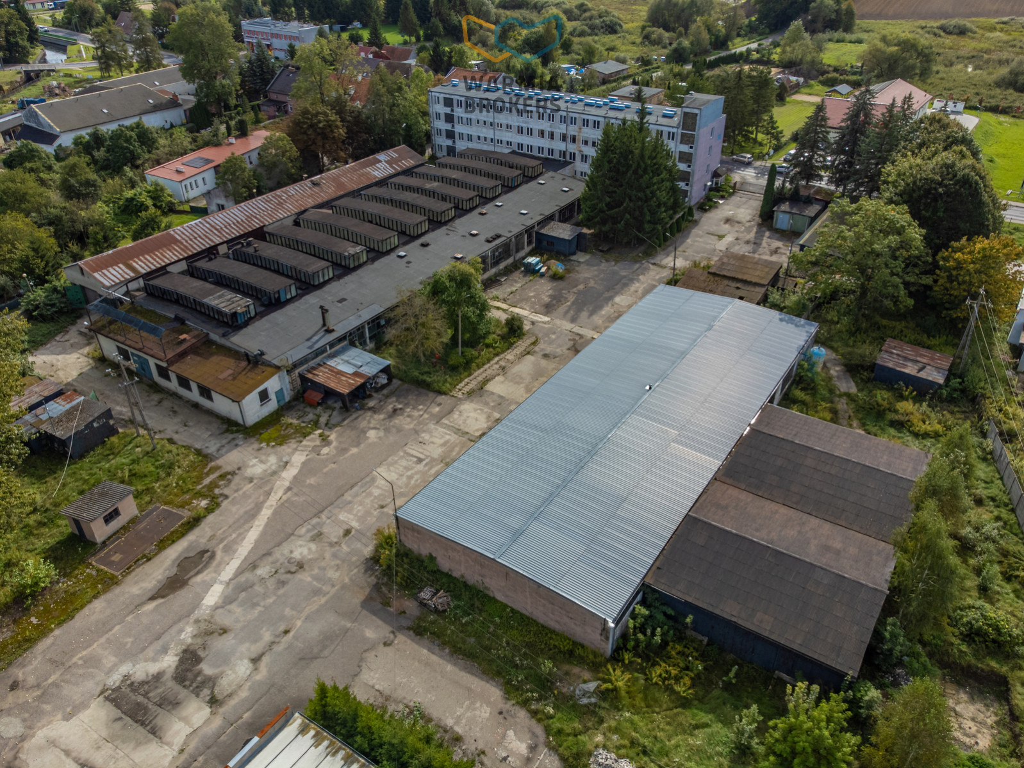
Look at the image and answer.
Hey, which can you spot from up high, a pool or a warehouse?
warehouse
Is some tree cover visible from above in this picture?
Yes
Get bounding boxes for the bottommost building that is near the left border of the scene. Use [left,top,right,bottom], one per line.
[51,474,138,544]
